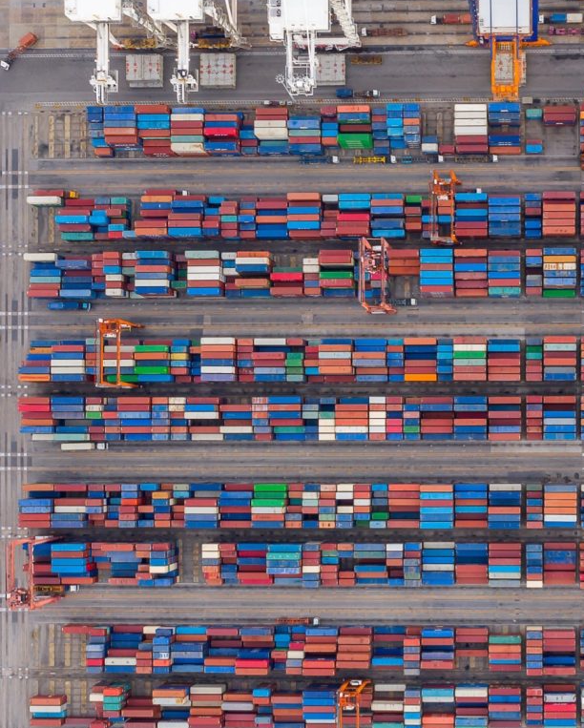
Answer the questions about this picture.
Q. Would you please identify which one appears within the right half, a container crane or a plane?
container crane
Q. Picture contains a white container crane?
Yes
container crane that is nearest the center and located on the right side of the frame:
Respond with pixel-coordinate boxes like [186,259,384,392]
[359,238,399,314]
